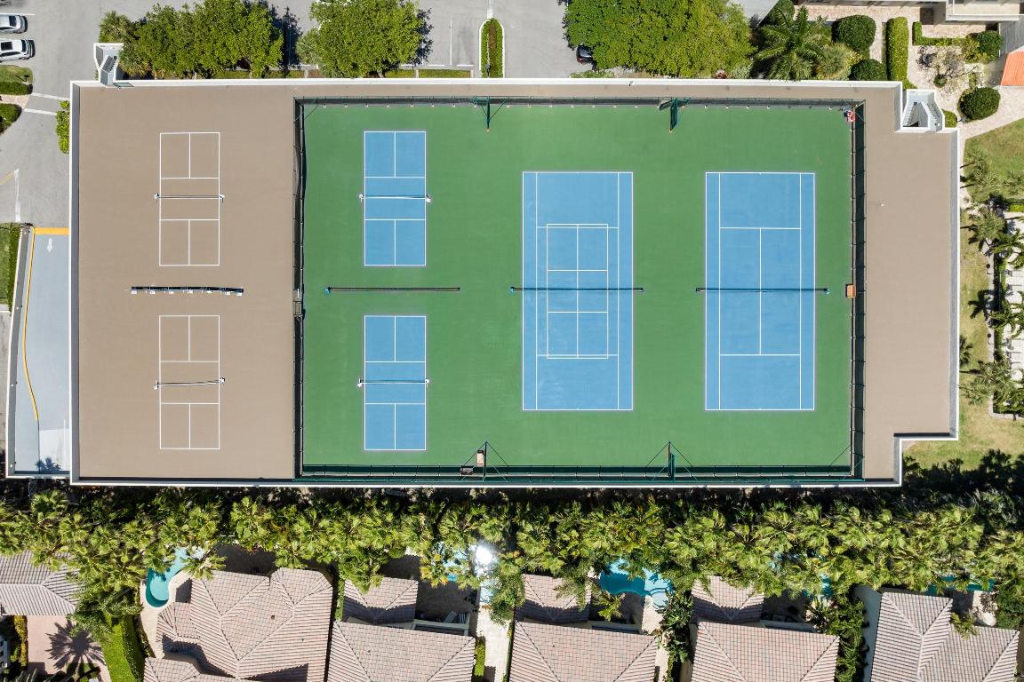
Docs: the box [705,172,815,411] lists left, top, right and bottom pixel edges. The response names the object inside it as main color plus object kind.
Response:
blue tennis court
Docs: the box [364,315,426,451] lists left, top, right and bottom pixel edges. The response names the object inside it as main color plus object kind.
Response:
blue sports court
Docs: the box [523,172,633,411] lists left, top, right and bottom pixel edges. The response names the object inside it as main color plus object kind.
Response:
blue tennis court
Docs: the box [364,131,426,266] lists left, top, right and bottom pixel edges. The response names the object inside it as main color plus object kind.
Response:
blue sports court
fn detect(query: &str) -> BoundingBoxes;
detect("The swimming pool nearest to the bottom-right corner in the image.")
[925,567,996,601]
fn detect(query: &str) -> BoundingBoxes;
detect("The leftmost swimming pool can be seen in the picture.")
[143,537,195,609]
